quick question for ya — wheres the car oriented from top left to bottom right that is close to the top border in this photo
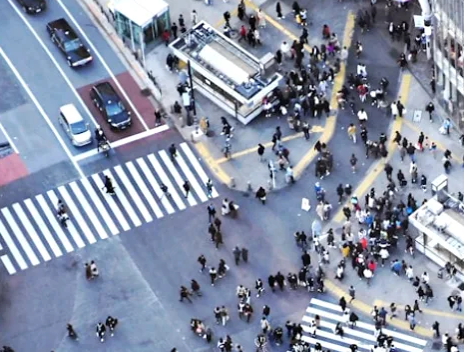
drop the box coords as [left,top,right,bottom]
[45,14,93,62]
